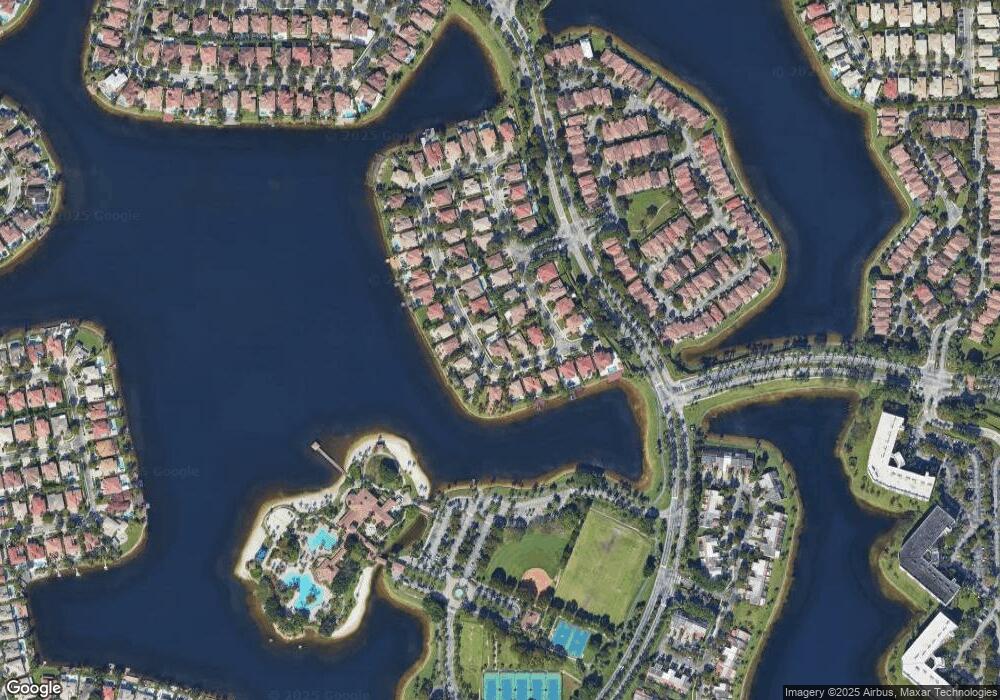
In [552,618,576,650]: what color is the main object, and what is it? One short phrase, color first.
blue sports court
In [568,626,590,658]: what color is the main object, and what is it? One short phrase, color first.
blue sports court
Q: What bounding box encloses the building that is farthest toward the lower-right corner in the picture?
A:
[901,612,968,700]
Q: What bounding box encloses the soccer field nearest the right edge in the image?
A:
[562,509,651,623]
